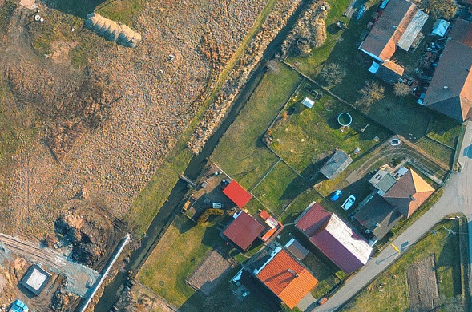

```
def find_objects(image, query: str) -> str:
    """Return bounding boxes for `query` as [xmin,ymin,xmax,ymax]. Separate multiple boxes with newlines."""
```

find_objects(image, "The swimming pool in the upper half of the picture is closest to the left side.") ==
[338,113,353,127]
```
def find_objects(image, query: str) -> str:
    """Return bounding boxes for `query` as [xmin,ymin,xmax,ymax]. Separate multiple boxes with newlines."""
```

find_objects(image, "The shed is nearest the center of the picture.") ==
[221,179,252,209]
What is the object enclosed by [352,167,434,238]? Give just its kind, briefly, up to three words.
house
